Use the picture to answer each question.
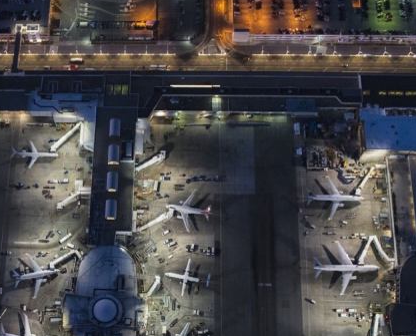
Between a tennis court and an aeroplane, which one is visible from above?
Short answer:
aeroplane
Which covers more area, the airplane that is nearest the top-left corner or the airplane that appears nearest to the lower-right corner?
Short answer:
the airplane that appears nearest to the lower-right corner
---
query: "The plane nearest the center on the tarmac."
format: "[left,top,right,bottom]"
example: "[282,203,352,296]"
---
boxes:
[167,188,210,231]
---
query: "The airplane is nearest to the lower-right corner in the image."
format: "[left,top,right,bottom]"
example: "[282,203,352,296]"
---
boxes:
[316,236,378,295]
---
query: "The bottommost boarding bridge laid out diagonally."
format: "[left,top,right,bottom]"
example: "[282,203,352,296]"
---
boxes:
[145,273,162,298]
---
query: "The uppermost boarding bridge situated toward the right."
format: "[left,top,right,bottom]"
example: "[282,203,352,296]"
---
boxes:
[355,166,375,197]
